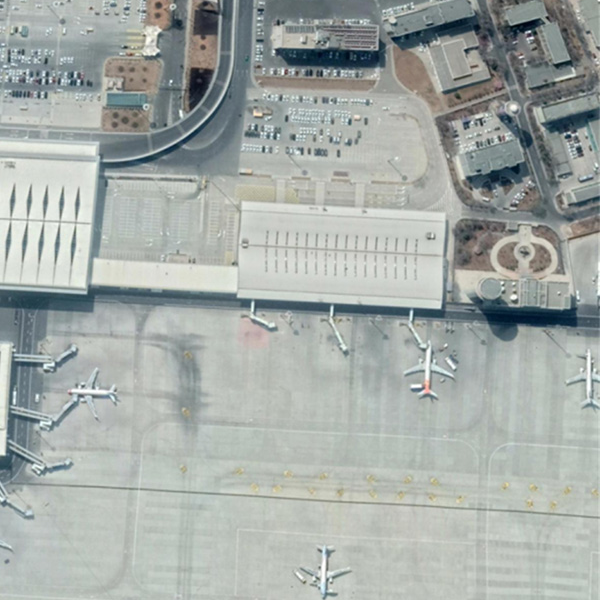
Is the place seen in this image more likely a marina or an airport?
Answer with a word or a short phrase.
airport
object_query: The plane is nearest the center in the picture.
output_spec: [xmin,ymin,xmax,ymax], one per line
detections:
[404,341,453,398]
